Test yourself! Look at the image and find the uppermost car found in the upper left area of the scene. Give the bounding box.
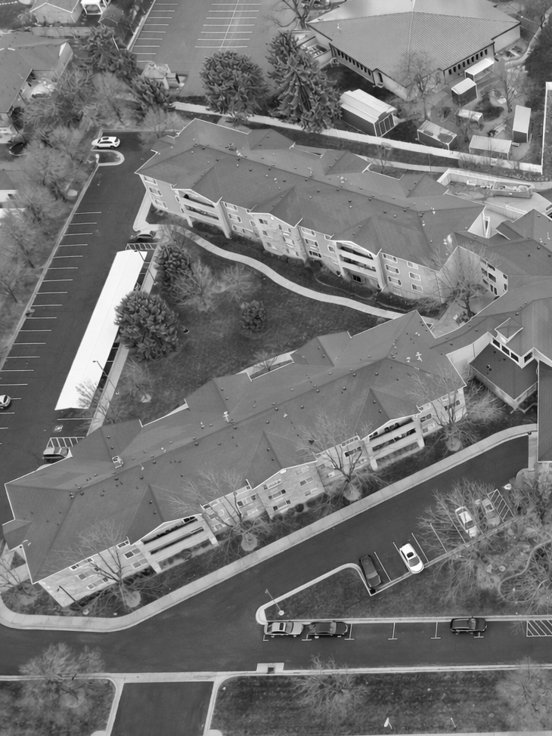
[92,136,119,149]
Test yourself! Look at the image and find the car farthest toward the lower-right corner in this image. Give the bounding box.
[450,616,489,635]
